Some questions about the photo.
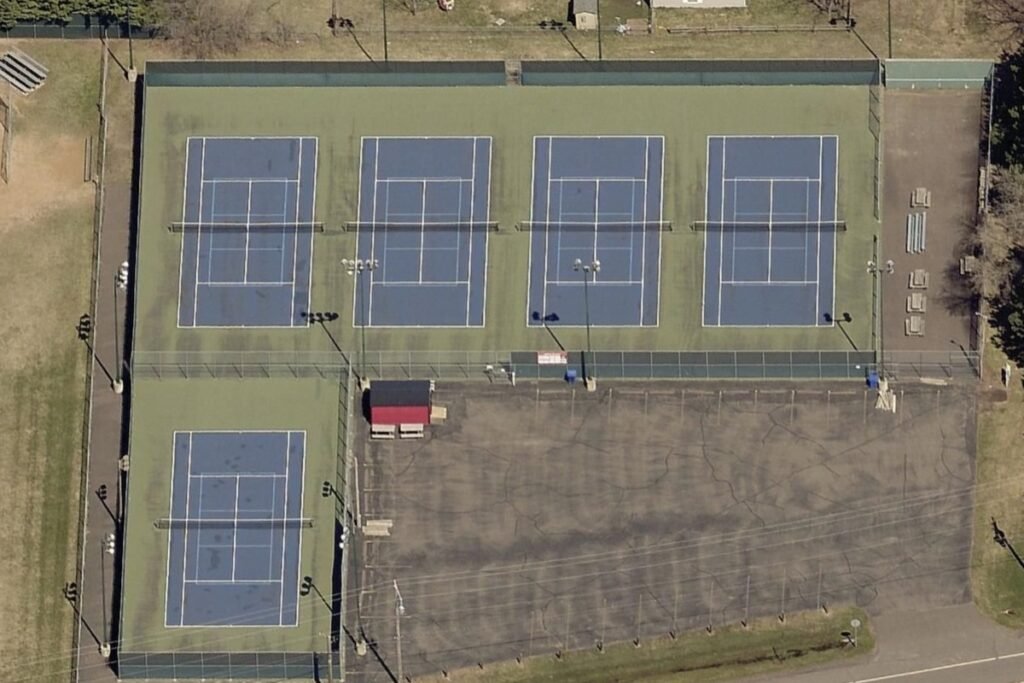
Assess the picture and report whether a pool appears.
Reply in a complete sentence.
No, there appears to be no pool in this shot.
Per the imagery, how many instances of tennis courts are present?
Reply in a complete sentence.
Altogether the scene contains 5 tennis courts.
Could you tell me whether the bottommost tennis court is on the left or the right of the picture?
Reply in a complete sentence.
You can find the bottommost tennis court on the left side of the picture.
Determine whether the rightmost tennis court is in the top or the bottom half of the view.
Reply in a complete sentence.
Seen from above, the rightmost tennis court lies in the top half of the view.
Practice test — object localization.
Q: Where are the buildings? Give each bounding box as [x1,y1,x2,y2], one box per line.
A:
[369,380,437,426]
[653,0,746,8]
[573,0,598,29]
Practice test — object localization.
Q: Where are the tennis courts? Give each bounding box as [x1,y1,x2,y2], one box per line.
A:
[528,136,664,327]
[353,137,491,327]
[178,137,317,327]
[165,431,306,626]
[703,136,837,326]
